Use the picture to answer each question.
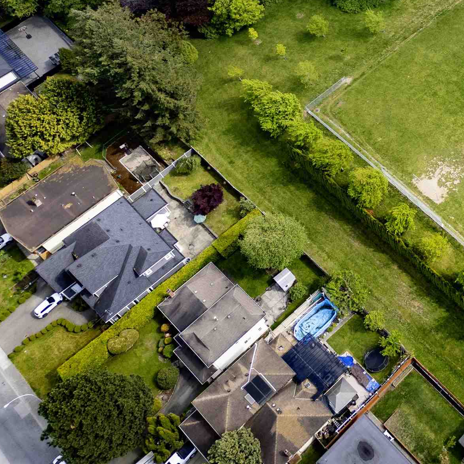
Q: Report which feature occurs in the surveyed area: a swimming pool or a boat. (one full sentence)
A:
Visible in the photo is a swimming pool.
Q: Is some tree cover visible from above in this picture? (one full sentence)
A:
Yes, the picture does contain tree cover.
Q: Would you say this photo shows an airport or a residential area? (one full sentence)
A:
This looks like a residential area.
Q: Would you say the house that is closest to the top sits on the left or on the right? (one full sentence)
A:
The house that is closest to the top appears in the left half of the scene.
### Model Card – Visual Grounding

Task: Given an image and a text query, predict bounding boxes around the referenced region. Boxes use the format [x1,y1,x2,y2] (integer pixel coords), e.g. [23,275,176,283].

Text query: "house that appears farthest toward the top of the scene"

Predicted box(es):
[0,34,46,95]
